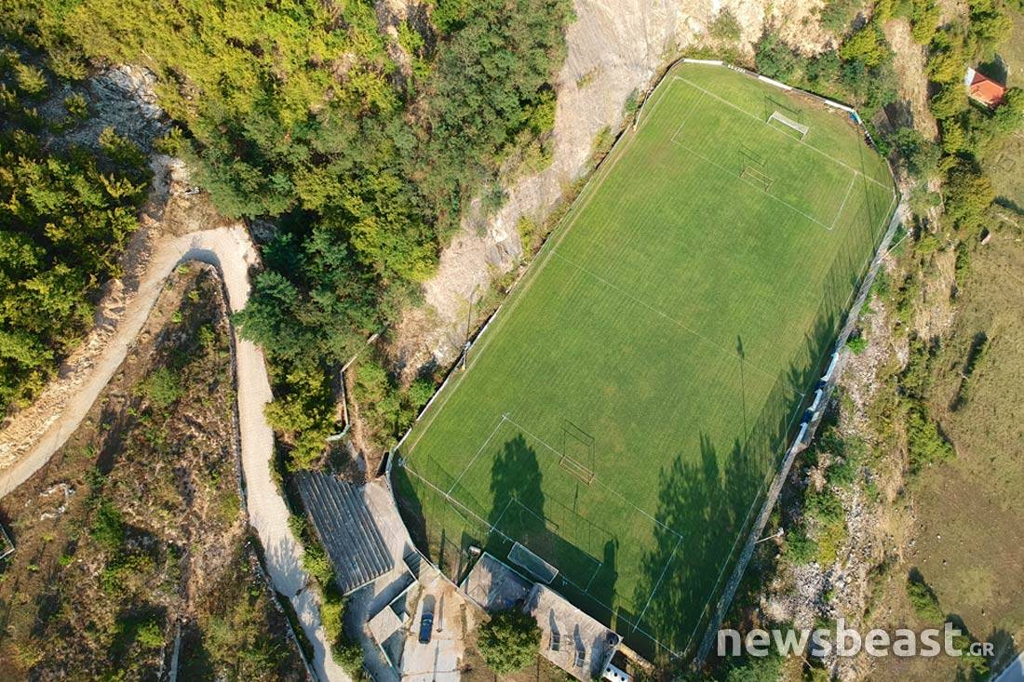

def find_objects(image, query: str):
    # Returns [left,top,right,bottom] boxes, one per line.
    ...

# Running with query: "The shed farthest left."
[368,604,403,644]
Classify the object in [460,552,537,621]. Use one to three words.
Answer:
building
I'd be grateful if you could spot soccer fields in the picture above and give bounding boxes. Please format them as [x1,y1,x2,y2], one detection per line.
[389,61,897,682]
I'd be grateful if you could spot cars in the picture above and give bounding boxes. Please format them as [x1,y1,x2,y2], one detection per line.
[419,613,435,647]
